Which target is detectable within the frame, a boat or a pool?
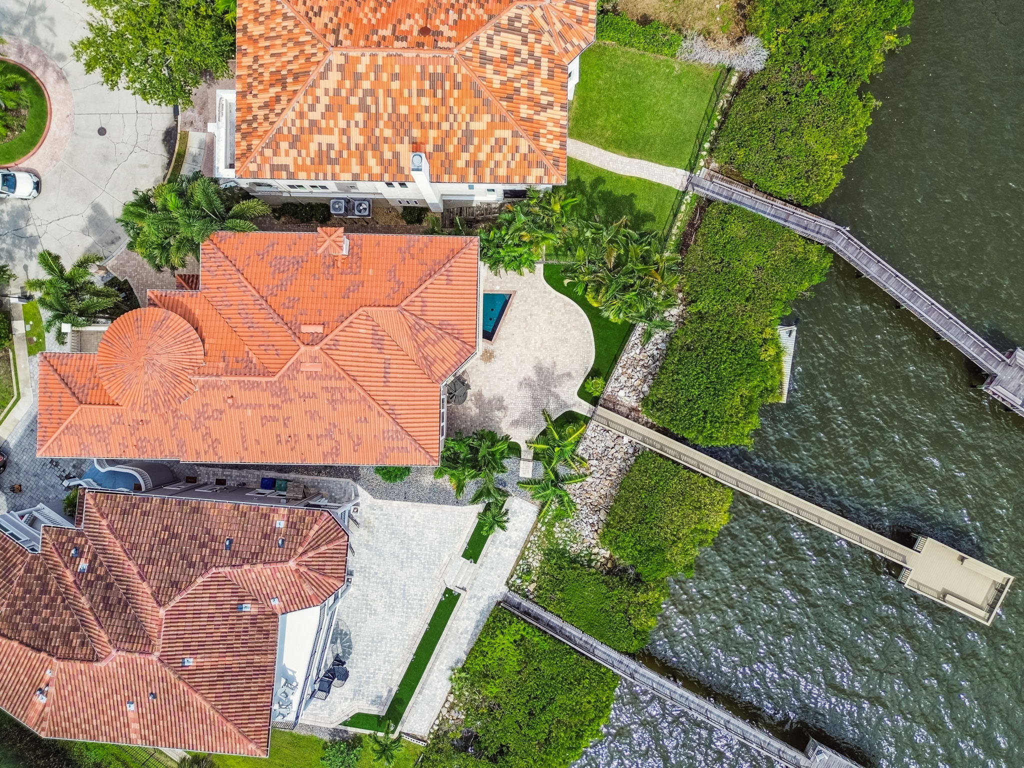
pool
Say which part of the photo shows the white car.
top left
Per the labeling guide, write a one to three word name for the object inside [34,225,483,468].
house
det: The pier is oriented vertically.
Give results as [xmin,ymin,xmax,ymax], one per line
[762,323,803,403]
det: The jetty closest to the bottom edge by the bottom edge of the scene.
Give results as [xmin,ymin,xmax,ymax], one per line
[501,587,885,768]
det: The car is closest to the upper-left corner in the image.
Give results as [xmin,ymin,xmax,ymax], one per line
[0,163,41,200]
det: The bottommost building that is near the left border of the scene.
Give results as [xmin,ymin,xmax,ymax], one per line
[0,459,373,759]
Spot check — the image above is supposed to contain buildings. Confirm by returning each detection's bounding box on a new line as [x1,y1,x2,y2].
[206,0,598,212]
[0,459,373,759]
[34,225,483,468]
